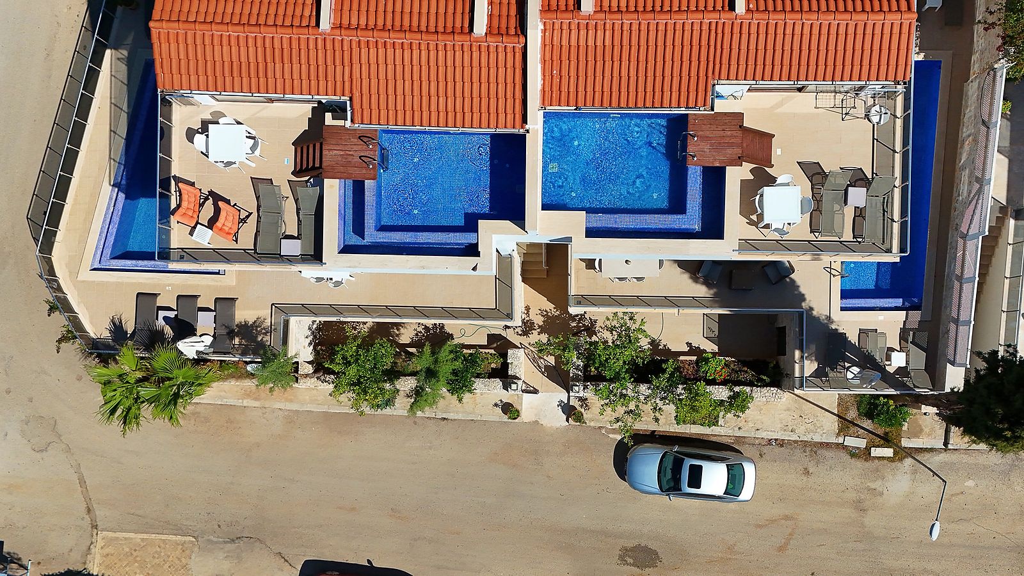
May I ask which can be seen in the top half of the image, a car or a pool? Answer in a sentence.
Visible in the top half of the image is a pool.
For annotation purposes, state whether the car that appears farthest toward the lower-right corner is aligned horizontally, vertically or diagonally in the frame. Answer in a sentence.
I'd say the car that appears farthest toward the lower-right corner is aligned horizontally in the picture.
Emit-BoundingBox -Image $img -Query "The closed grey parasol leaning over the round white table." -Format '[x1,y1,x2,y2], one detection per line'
[855,364,897,387]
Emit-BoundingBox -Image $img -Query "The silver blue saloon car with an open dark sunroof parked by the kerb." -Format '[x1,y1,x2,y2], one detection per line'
[623,440,758,505]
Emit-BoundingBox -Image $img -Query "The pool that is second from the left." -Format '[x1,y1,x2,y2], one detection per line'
[323,122,532,274]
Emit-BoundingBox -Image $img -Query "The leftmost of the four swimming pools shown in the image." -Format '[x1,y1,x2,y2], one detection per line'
[90,58,231,274]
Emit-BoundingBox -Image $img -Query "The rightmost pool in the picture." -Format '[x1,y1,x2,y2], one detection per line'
[839,60,942,310]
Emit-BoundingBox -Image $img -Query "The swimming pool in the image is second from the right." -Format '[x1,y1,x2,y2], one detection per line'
[527,109,741,261]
